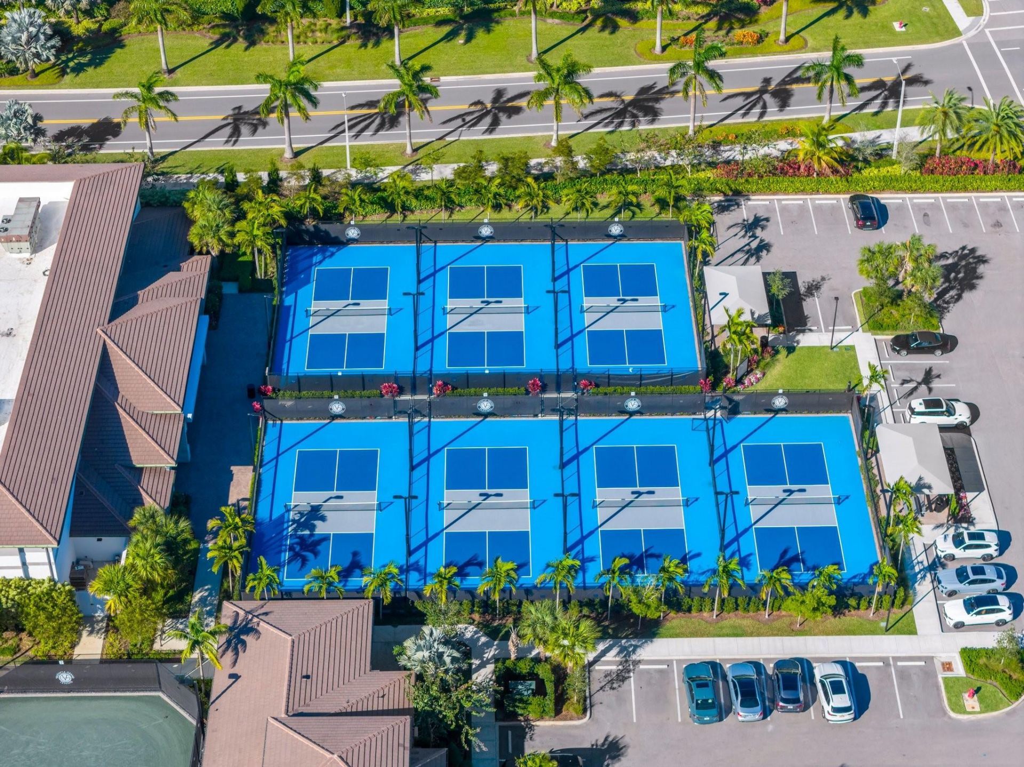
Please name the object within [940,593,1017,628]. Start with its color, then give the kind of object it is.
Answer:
white car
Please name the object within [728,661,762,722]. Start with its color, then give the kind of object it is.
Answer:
blue car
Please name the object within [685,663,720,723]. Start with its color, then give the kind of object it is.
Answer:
blue car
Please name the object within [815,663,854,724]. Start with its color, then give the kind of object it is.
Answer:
white car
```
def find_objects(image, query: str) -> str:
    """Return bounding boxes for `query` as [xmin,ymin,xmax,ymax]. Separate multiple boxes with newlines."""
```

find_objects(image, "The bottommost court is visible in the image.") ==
[0,691,202,767]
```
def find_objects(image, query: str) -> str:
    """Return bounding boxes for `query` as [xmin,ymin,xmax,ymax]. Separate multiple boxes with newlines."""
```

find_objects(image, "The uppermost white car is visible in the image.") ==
[907,398,975,430]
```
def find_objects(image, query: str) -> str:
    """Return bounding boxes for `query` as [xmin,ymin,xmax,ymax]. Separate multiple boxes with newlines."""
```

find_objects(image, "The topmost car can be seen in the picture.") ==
[848,193,877,230]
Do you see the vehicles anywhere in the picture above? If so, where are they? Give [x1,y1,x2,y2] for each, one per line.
[848,193,877,230]
[887,329,951,357]
[907,398,975,430]
[685,663,720,723]
[940,593,1017,628]
[728,661,762,722]
[934,563,1007,597]
[767,653,803,712]
[815,663,854,724]
[932,529,1003,562]
[526,751,600,767]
